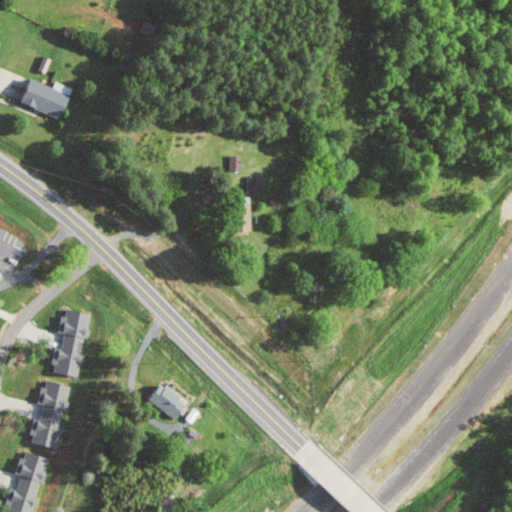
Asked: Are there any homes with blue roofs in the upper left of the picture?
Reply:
No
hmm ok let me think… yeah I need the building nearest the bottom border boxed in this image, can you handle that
[5,454,49,512]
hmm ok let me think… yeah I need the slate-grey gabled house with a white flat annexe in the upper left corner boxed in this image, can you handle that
[20,80,74,122]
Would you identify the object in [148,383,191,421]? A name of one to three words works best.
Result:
house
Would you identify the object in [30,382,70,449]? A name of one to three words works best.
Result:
house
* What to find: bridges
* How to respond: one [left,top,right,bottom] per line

[294,438,386,512]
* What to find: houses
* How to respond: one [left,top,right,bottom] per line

[50,309,90,378]
[148,383,191,421]
[247,177,265,196]
[20,80,74,122]
[30,382,70,449]
[5,454,49,512]
[244,196,254,234]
